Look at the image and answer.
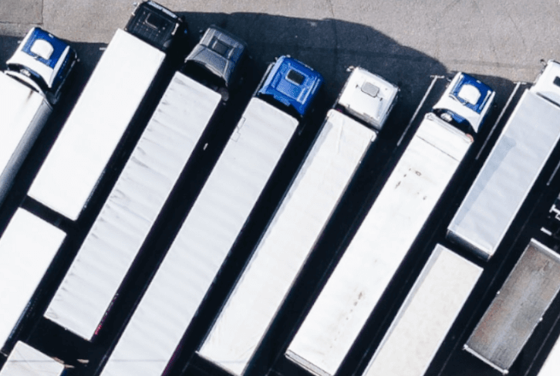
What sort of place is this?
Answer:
parking lot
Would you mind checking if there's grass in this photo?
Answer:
No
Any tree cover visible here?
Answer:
No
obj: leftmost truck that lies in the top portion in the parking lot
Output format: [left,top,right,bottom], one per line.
[0,25,90,234]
